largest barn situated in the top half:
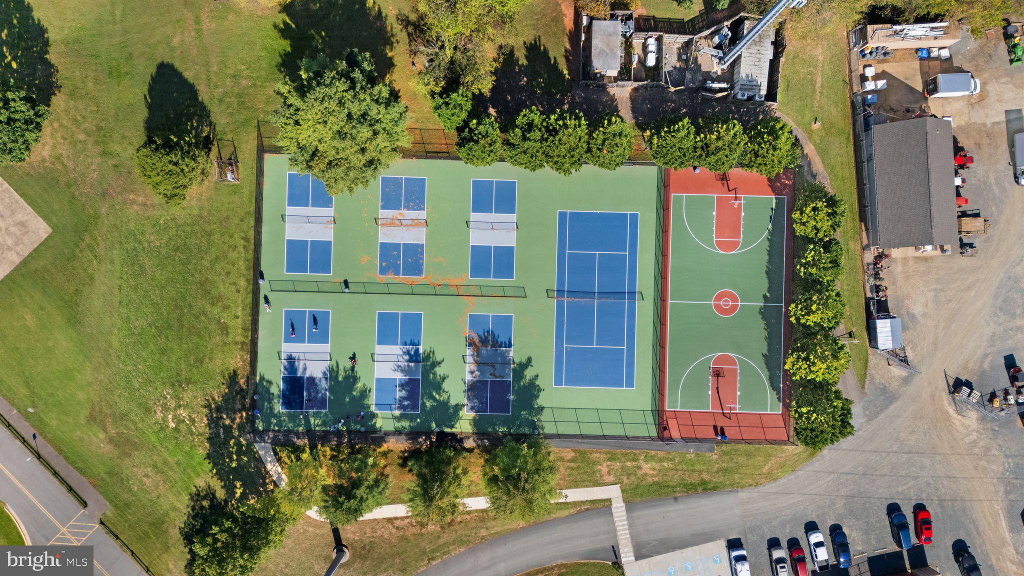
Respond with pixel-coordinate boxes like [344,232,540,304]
[864,118,960,248]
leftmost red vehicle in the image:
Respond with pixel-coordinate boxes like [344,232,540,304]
[789,544,809,576]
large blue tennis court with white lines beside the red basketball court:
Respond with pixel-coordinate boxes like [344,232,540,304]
[554,211,639,388]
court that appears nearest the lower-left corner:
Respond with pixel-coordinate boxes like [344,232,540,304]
[281,309,330,411]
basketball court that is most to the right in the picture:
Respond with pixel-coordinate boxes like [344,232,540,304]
[659,169,794,440]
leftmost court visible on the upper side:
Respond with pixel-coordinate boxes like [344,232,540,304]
[285,173,334,274]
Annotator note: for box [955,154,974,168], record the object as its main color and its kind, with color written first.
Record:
red work vehicle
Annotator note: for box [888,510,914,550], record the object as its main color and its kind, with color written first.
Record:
blue car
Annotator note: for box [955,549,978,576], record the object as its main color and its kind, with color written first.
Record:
black car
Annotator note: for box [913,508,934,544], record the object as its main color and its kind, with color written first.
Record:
red car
